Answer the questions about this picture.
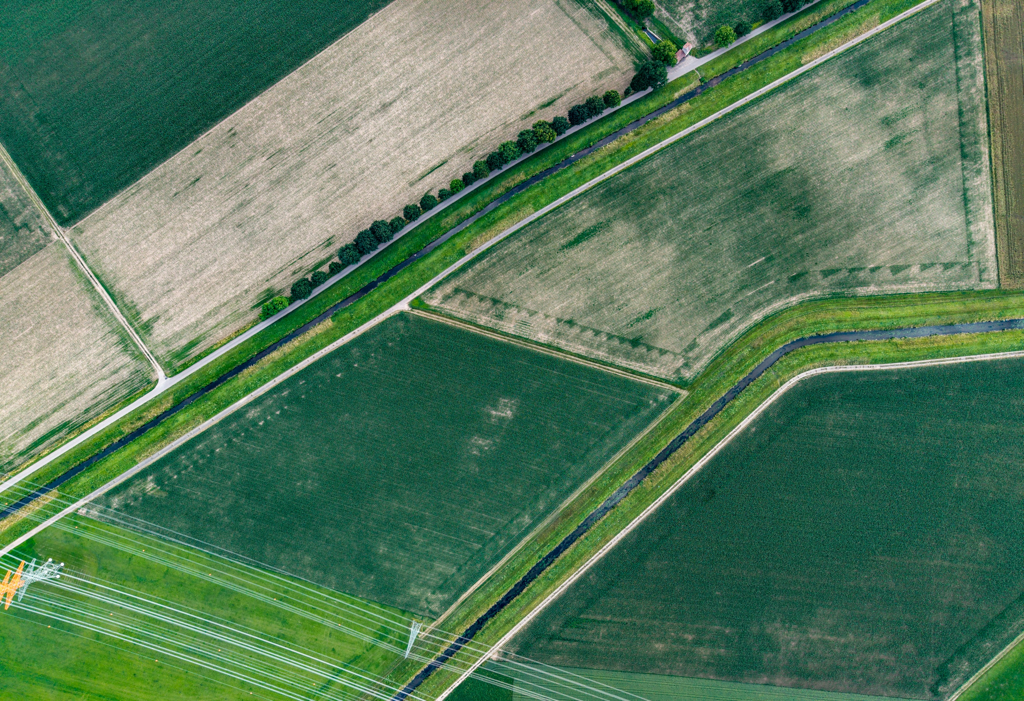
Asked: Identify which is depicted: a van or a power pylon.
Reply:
power pylon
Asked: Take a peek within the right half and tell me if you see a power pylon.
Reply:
No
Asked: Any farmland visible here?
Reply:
Yes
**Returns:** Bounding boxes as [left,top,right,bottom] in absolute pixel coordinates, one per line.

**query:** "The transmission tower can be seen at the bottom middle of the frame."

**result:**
[401,618,424,663]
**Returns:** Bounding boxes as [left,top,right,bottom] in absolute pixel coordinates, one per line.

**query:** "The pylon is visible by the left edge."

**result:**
[0,559,64,614]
